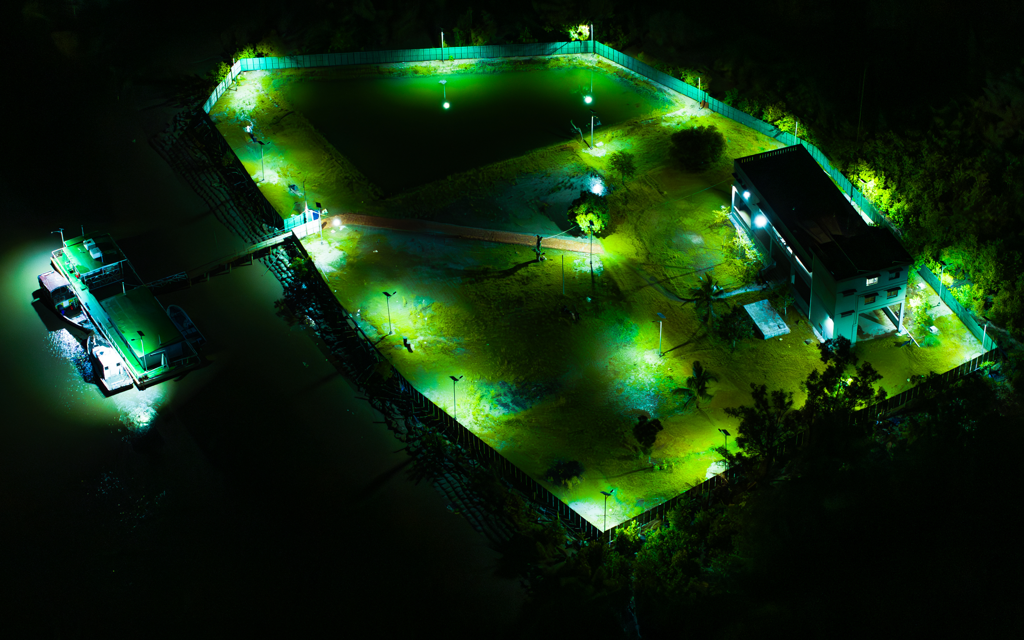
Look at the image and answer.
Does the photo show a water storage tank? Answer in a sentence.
Yes, there's a water storage tank here.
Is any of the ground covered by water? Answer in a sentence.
Yes, water shows up in the scene.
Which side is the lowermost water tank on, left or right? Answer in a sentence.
It is on the right.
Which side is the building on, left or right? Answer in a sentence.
It is on the right.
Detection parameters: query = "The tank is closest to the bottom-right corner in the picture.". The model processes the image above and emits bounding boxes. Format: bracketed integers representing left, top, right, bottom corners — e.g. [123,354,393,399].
[749,299,790,342]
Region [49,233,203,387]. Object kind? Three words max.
pier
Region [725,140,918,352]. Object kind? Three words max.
building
